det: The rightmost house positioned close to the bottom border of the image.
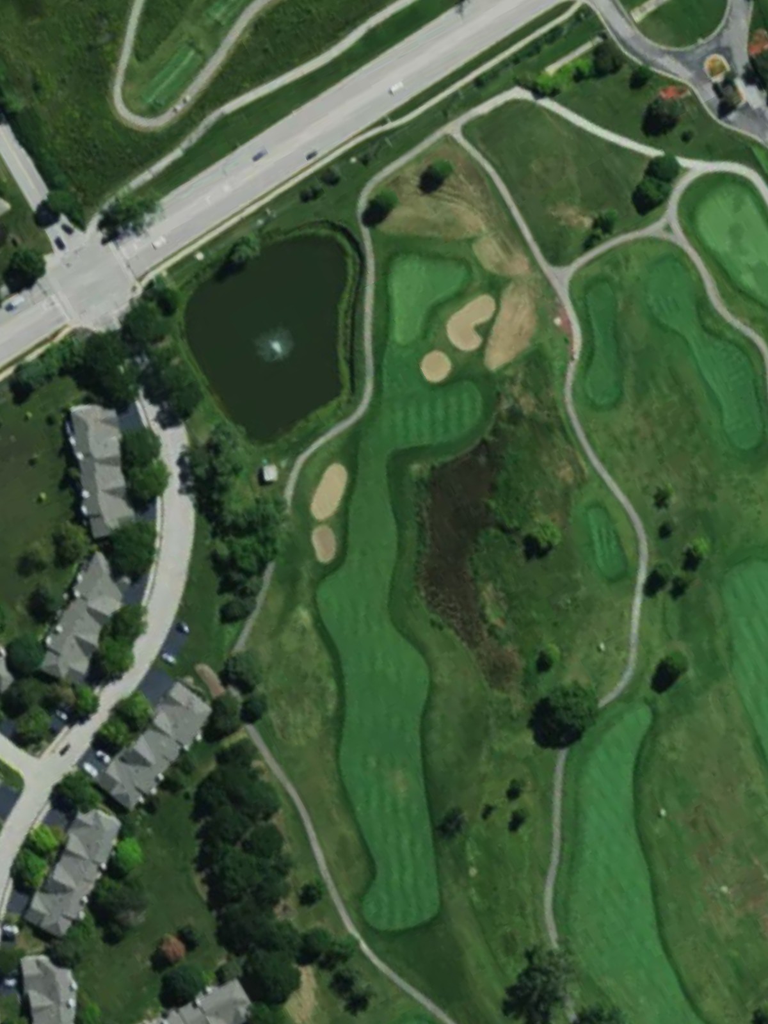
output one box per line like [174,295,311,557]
[160,982,254,1024]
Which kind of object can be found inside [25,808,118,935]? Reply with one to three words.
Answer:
house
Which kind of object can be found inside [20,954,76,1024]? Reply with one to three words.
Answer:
house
